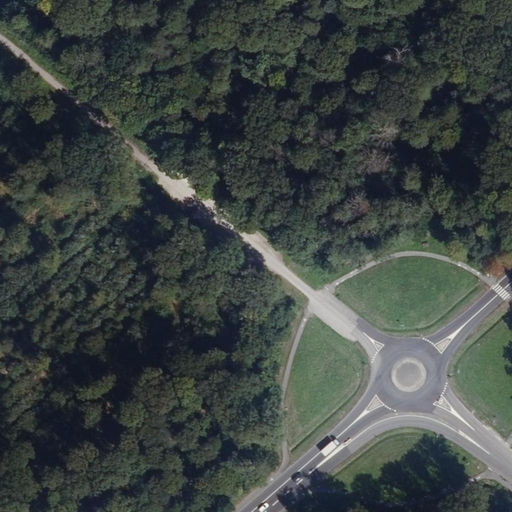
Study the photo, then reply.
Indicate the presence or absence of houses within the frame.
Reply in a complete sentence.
No, there is no house in the image.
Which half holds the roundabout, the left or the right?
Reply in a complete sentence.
The roundabout appears in the right half of the scene.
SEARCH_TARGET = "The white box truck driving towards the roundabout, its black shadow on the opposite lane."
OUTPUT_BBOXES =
[322,439,340,456]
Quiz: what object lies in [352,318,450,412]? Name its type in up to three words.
roundabout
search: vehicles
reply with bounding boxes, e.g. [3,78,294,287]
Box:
[260,504,268,512]
[322,439,340,456]
[294,474,302,482]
